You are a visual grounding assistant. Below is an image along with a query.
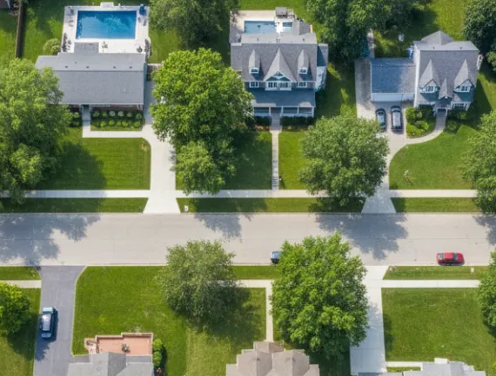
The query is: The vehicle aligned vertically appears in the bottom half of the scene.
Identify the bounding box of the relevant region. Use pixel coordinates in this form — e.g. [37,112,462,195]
[41,308,56,340]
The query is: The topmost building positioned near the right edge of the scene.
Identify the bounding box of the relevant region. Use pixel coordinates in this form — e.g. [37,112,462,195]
[370,26,482,115]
